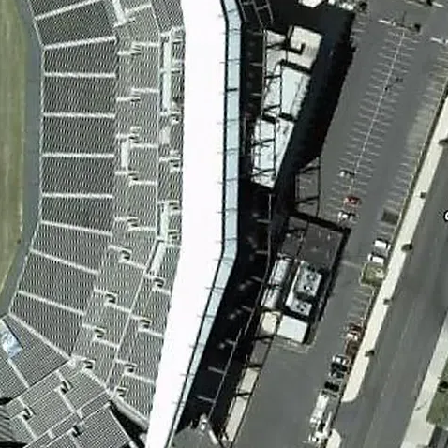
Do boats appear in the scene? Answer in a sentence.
No, the frame has no boat in it.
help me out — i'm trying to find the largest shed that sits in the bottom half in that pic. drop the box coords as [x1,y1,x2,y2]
[277,316,309,343]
